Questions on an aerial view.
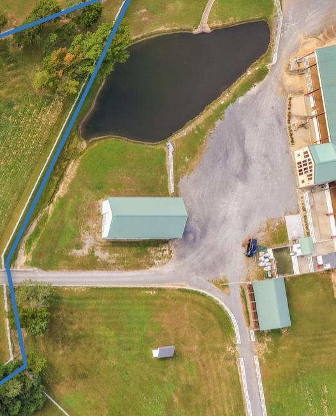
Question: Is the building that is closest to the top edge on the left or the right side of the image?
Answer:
right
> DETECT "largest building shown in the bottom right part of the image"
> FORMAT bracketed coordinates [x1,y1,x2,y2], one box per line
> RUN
[246,277,291,331]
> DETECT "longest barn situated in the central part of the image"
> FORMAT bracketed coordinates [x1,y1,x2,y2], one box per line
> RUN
[102,197,187,239]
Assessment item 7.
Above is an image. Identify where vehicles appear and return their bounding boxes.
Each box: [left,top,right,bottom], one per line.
[247,237,259,257]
